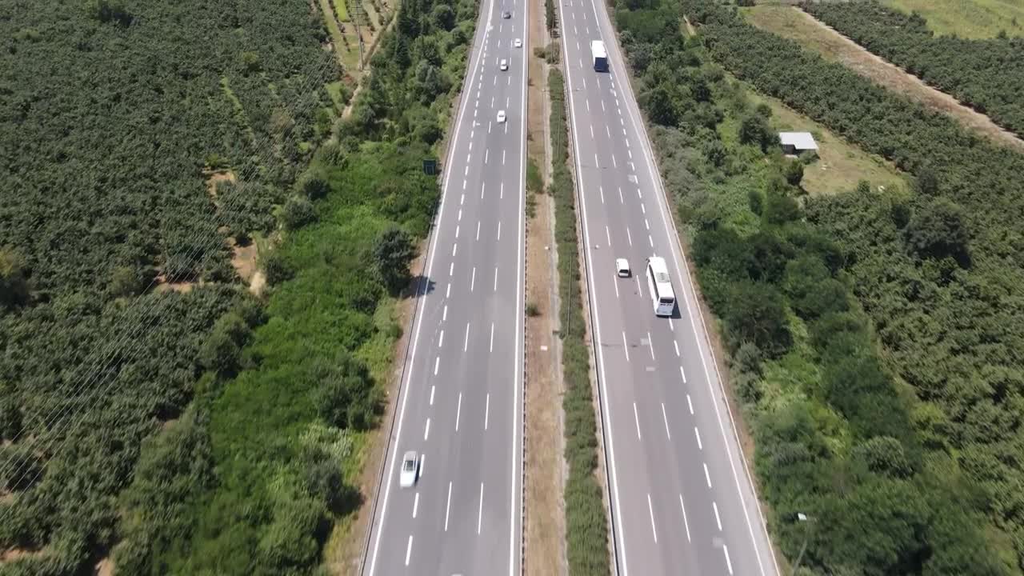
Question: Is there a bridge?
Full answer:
No, no bridge is visible in the scene.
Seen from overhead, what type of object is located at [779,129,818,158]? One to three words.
shed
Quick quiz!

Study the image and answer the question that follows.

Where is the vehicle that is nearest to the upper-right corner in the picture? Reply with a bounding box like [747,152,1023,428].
[593,43,607,70]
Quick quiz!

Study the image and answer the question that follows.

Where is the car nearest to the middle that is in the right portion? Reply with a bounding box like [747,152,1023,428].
[617,260,630,276]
